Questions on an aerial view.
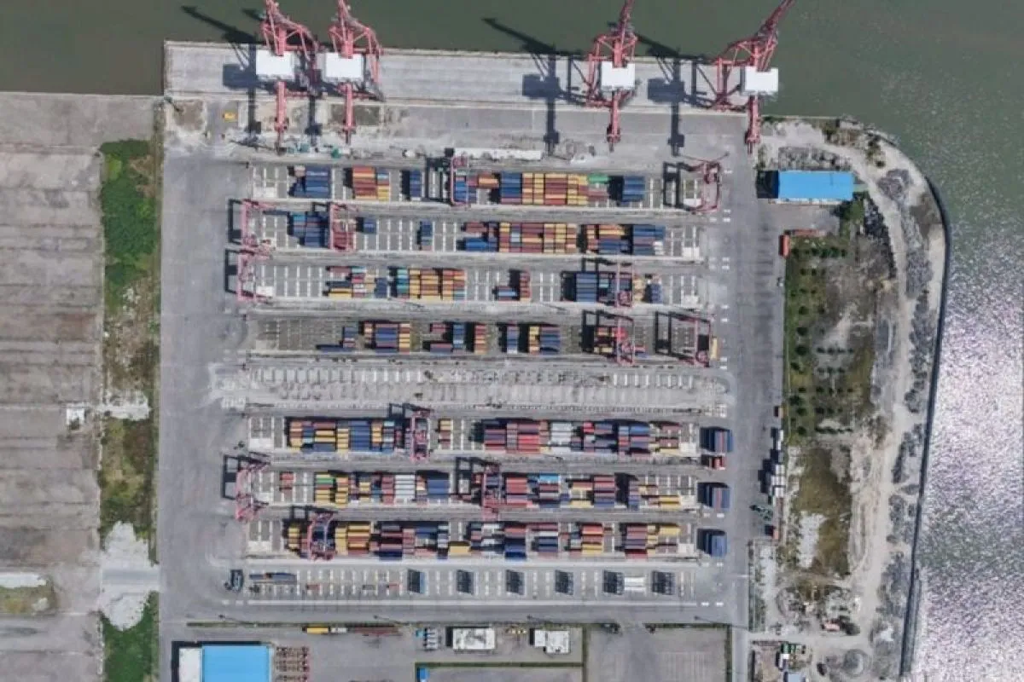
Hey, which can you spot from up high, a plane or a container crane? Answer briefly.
container crane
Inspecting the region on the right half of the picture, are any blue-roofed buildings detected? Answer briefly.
Yes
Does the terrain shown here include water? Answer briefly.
Yes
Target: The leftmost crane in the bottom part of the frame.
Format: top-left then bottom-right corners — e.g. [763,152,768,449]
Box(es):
[234,459,268,516]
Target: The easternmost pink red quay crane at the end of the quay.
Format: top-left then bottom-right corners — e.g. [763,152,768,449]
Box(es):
[709,0,795,165]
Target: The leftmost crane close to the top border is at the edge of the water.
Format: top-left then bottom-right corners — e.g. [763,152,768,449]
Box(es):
[256,0,323,151]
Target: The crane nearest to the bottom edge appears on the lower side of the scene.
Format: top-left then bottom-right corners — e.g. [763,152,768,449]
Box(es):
[308,510,338,568]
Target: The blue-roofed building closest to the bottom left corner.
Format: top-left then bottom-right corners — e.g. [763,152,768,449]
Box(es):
[202,640,275,682]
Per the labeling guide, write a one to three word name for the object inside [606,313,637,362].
crane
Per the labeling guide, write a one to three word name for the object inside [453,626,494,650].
building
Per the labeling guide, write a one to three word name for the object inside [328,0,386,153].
container crane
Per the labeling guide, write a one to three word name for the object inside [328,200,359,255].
crane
